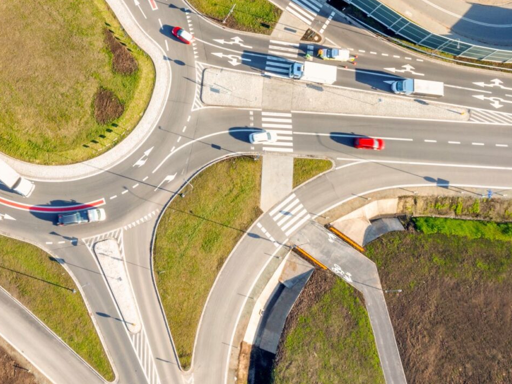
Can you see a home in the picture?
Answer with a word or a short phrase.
No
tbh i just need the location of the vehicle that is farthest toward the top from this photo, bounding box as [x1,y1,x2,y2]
[171,26,194,46]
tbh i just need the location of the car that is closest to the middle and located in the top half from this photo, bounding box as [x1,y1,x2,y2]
[248,130,278,144]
